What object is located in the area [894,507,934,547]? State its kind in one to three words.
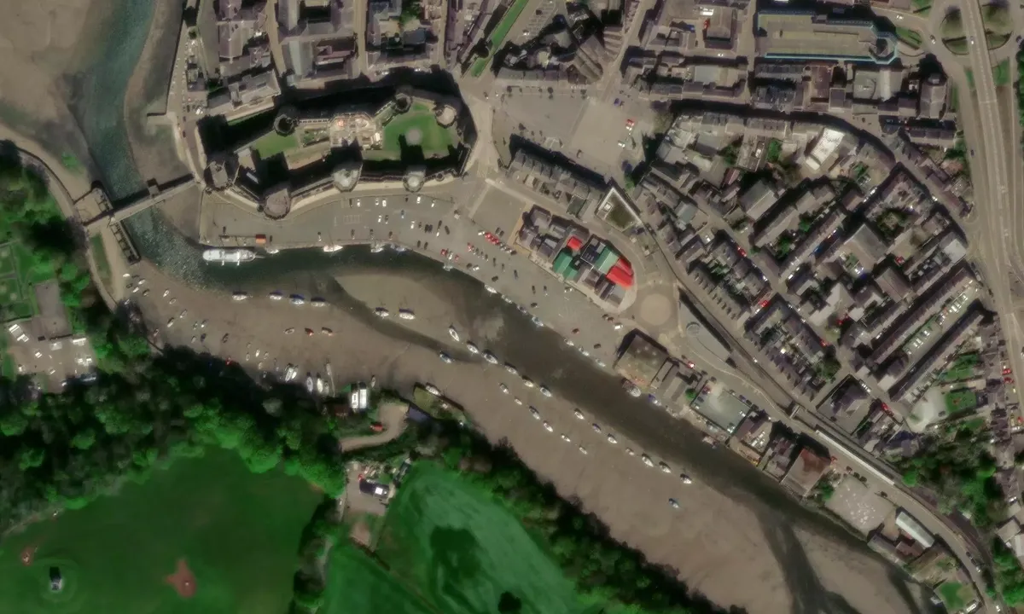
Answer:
shed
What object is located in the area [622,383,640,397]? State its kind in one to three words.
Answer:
boat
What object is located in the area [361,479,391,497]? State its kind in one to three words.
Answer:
house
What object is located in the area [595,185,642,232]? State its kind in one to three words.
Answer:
building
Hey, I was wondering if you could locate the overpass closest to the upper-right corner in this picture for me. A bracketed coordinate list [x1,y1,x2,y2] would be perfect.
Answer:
[962,0,1018,240]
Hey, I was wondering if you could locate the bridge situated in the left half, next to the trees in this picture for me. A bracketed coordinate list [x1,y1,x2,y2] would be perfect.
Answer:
[84,179,198,230]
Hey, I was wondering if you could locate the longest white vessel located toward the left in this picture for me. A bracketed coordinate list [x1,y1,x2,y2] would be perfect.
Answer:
[203,252,254,268]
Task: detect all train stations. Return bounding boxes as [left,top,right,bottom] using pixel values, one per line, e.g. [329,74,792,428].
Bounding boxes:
[807,427,900,496]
